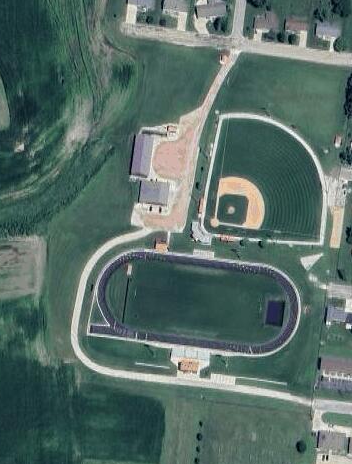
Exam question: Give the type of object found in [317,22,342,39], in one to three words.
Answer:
house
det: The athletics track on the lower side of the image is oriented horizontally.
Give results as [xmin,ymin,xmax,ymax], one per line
[88,249,301,356]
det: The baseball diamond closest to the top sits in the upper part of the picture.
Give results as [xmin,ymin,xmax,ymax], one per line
[201,113,329,244]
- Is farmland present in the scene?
Yes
